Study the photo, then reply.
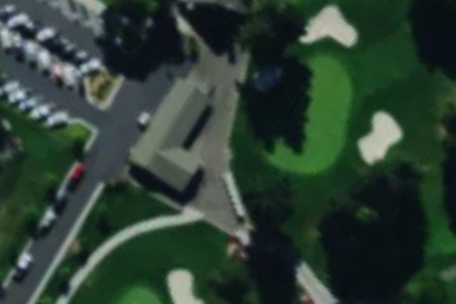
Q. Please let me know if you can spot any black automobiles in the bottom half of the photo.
Yes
